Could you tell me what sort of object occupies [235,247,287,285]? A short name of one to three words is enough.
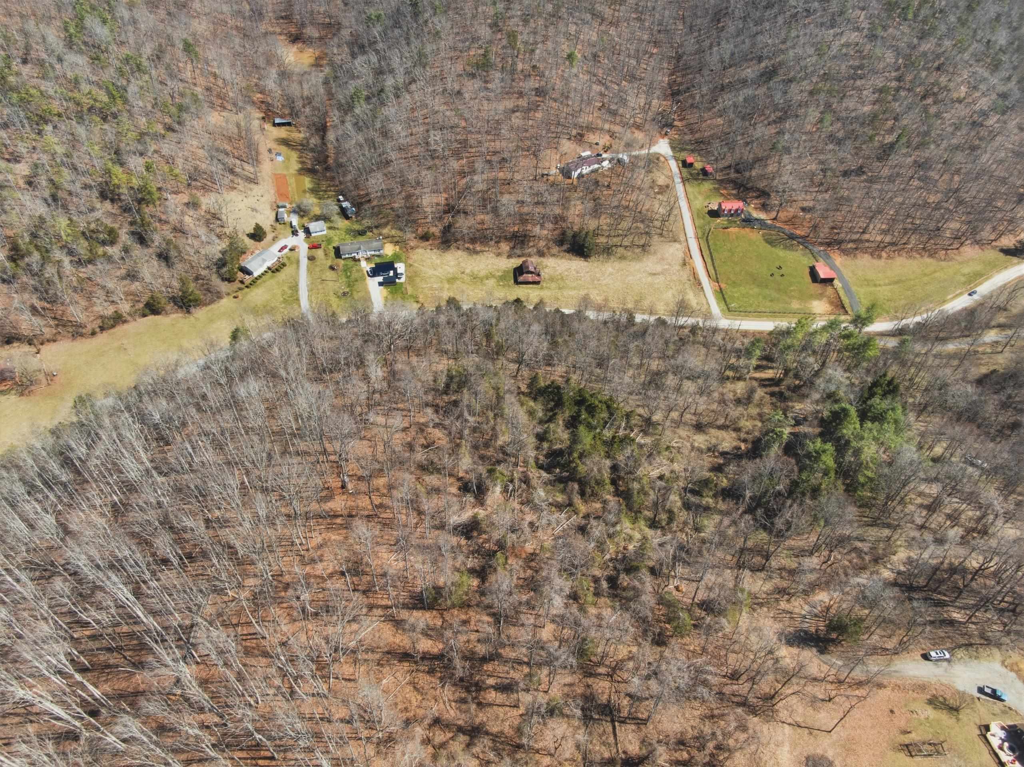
house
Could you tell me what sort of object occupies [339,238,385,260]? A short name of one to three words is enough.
house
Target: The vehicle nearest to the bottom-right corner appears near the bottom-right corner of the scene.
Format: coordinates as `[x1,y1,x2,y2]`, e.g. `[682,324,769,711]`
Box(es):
[983,681,1015,707]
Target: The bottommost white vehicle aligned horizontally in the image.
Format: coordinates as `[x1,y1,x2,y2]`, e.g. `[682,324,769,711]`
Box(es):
[927,649,955,662]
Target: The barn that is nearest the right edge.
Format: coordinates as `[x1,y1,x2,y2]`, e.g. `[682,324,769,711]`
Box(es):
[810,262,838,283]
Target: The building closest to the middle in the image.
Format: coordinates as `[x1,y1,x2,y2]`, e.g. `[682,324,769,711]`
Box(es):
[519,254,541,282]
